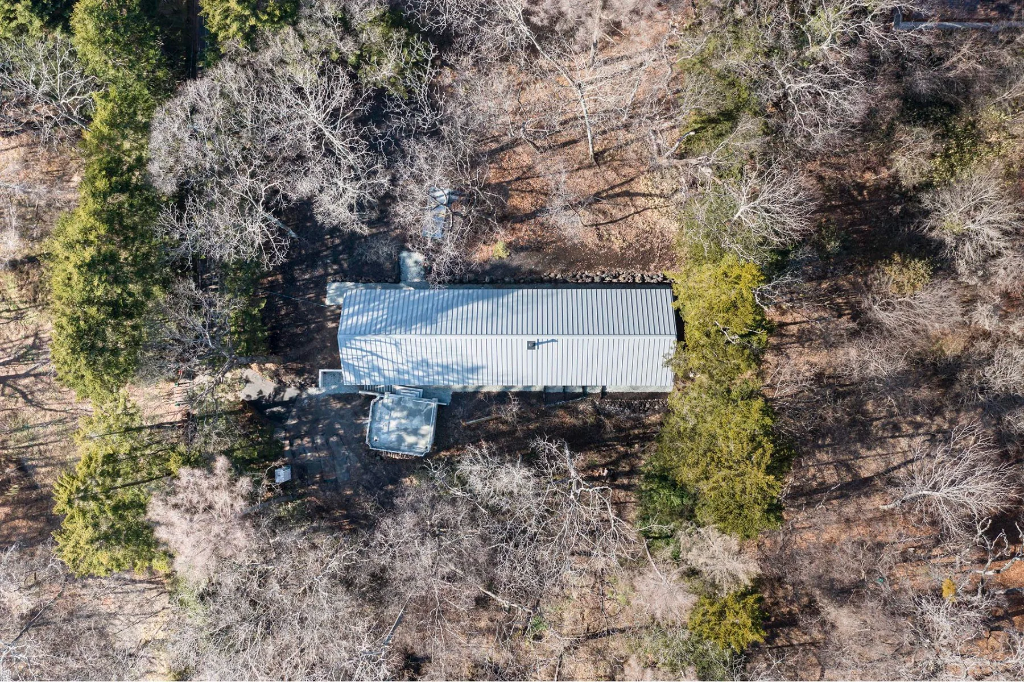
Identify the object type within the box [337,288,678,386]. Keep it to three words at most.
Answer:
house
